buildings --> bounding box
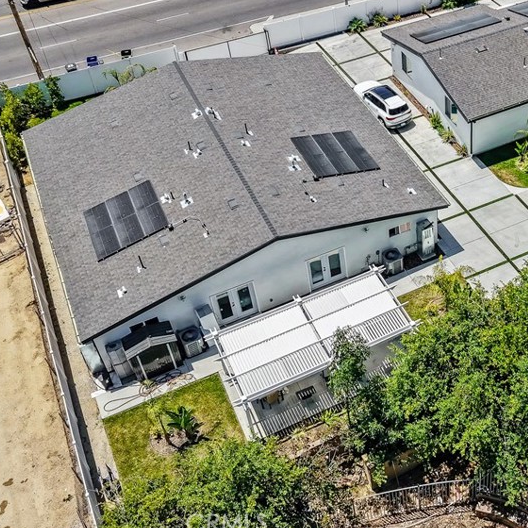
[19,53,452,371]
[379,2,528,155]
